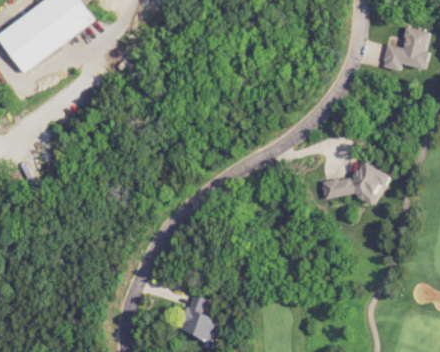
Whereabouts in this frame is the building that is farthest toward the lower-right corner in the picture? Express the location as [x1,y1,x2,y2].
[322,162,393,206]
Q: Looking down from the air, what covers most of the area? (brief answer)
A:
trees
